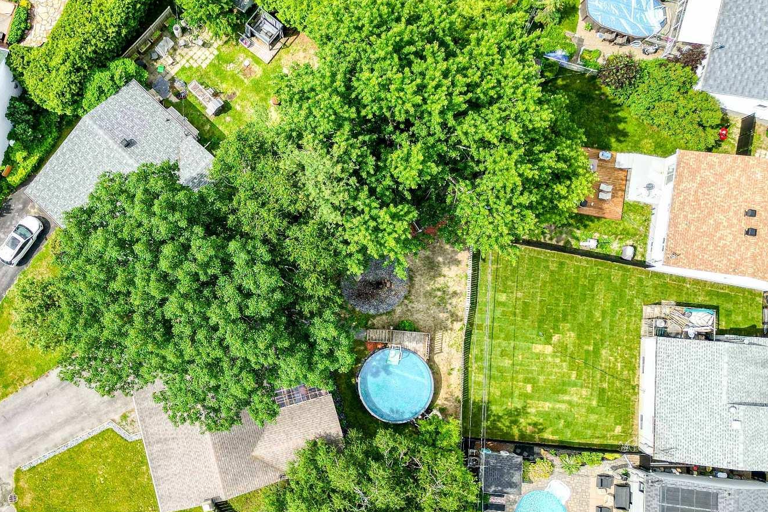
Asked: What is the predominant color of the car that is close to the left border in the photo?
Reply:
white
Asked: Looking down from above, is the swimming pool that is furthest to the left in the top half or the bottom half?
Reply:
bottom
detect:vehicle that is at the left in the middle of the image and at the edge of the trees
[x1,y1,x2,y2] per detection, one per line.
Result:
[0,211,46,269]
